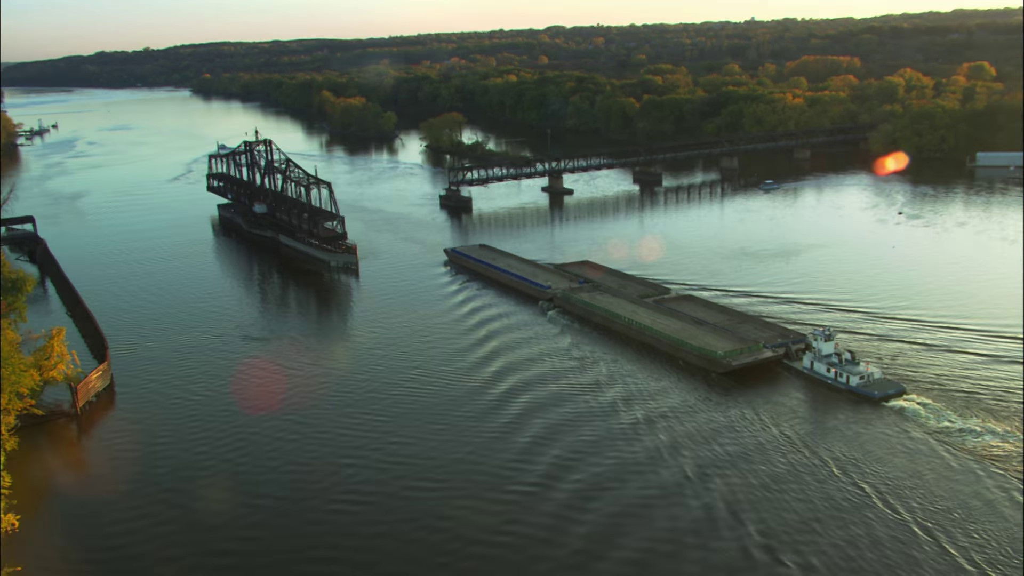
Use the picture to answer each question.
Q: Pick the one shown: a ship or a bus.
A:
ship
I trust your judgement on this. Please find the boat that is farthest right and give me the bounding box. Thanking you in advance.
[789,326,904,401]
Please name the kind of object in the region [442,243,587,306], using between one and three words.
ship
